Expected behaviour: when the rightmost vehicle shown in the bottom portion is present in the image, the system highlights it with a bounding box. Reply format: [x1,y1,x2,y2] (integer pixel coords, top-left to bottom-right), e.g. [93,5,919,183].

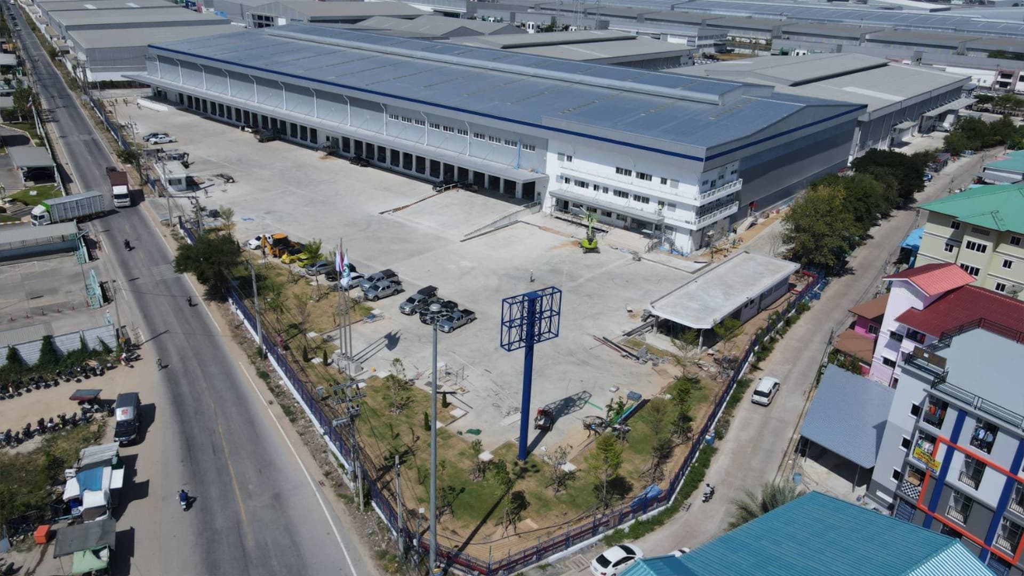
[750,373,782,402]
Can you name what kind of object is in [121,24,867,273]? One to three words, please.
warehouse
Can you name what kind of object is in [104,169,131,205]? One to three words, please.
truck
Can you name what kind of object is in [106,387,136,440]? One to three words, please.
truck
